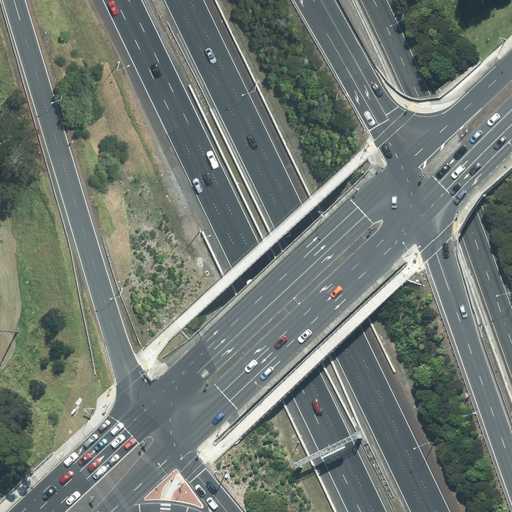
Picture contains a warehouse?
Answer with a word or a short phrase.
No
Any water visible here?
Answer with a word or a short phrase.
No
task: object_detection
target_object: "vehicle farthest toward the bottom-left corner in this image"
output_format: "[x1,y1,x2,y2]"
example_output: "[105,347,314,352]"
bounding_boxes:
[42,486,57,500]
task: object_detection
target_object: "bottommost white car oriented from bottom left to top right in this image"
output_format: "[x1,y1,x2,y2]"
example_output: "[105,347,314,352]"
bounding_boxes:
[66,492,80,506]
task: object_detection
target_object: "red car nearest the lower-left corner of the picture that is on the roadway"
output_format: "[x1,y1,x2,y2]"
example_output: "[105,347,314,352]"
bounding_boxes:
[59,470,74,485]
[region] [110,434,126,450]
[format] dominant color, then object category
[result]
white vehicle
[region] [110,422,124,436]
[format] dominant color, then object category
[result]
white car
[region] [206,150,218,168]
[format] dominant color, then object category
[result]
white vehicle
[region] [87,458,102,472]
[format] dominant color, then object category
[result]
red car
